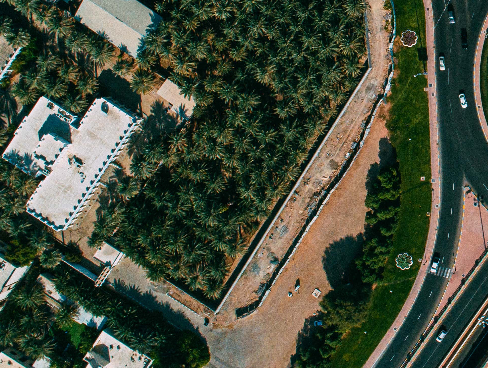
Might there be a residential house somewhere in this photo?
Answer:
Yes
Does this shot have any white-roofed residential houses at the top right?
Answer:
No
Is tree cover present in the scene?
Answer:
Yes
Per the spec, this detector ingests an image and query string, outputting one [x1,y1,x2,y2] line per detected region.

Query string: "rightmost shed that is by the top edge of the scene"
[77,0,169,56]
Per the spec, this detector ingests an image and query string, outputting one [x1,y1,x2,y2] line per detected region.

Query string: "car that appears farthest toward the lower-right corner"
[435,329,449,345]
